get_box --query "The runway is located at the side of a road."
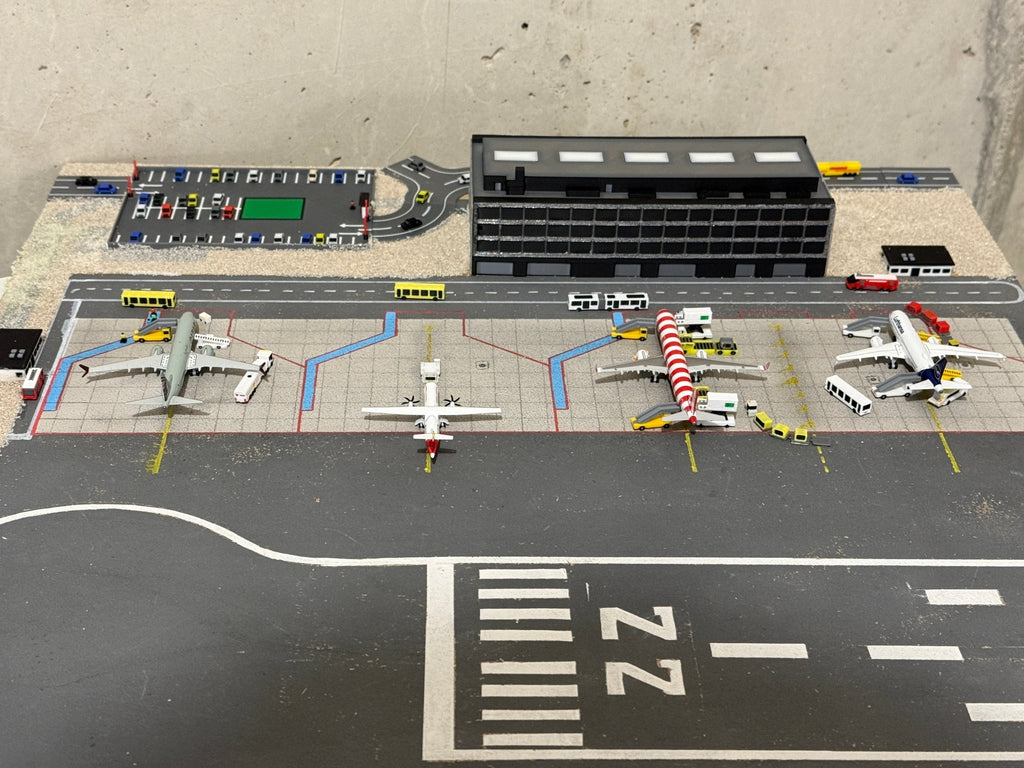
[0,299,1024,768]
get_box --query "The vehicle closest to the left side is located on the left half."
[22,368,44,398]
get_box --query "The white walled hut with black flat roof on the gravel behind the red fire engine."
[881,246,956,276]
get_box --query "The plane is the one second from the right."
[593,309,767,424]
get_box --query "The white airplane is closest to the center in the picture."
[362,380,501,458]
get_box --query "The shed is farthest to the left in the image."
[0,327,42,381]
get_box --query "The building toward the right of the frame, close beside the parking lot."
[472,135,836,277]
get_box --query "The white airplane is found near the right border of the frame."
[836,310,1005,395]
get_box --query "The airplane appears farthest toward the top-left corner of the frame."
[77,313,266,408]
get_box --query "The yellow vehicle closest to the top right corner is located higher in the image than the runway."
[820,162,862,178]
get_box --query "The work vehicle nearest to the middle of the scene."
[421,361,440,384]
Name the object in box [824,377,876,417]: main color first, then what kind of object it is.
white bus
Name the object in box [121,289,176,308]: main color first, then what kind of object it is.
yellow vehicle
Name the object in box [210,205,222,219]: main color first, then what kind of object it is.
gray vehicle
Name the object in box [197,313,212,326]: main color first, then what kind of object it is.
white vehicle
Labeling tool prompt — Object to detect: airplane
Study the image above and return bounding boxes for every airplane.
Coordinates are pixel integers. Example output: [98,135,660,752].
[77,313,266,408]
[836,310,1005,395]
[362,380,501,458]
[593,309,767,424]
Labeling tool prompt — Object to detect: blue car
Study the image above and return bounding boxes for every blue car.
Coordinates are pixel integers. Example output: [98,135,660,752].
[139,193,150,206]
[302,233,312,244]
[174,168,186,181]
[335,170,344,183]
[130,231,142,243]
[251,232,262,244]
[897,175,918,185]
[95,184,116,194]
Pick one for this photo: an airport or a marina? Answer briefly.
airport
